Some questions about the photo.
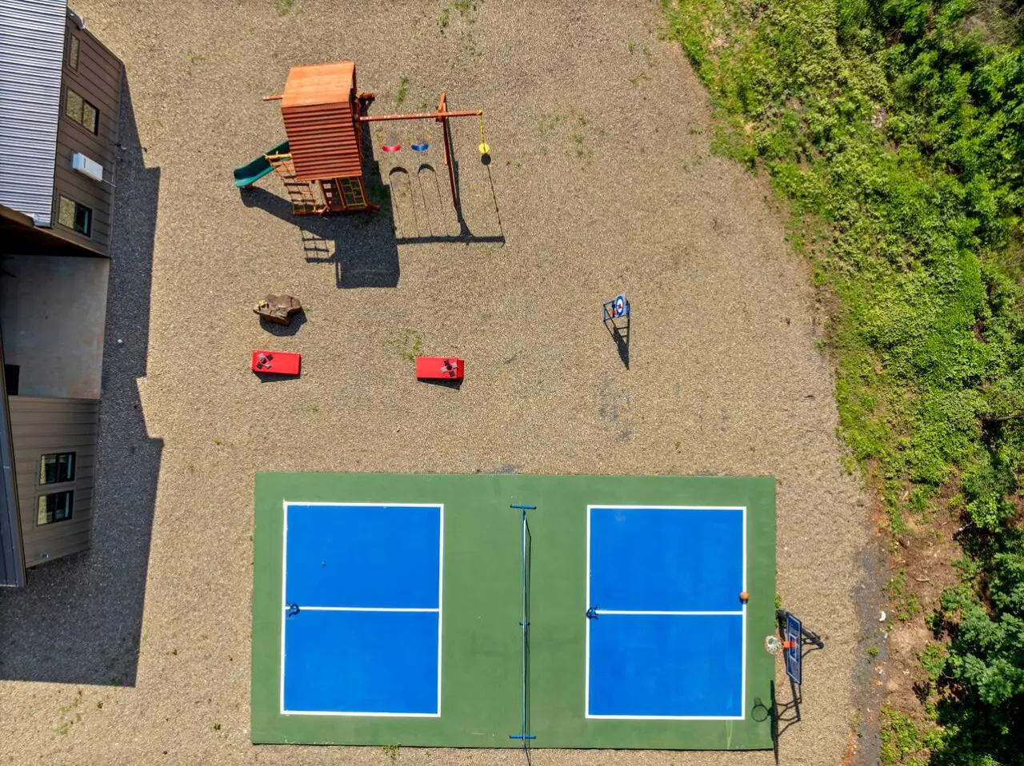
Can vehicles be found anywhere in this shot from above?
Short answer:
No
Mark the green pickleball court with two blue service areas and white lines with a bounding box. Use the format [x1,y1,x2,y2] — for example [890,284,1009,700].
[250,472,777,751]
